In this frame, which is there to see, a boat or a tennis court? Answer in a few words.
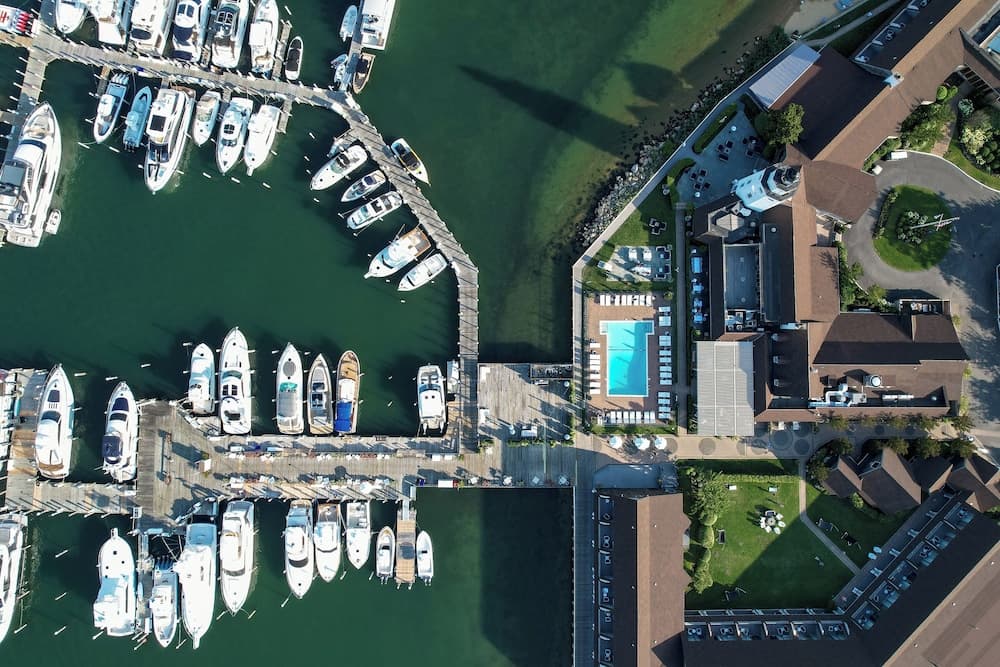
boat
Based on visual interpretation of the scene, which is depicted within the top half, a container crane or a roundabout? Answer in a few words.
roundabout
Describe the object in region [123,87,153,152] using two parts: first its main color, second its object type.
blue boat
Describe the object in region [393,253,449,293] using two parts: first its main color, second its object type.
white boat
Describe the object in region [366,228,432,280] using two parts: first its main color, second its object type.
white boat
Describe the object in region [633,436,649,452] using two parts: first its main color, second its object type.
white umbrella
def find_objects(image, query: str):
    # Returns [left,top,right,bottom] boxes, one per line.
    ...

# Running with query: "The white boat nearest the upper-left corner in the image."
[0,6,27,34]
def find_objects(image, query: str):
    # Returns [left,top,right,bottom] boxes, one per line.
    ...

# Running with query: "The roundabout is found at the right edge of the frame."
[873,186,954,271]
